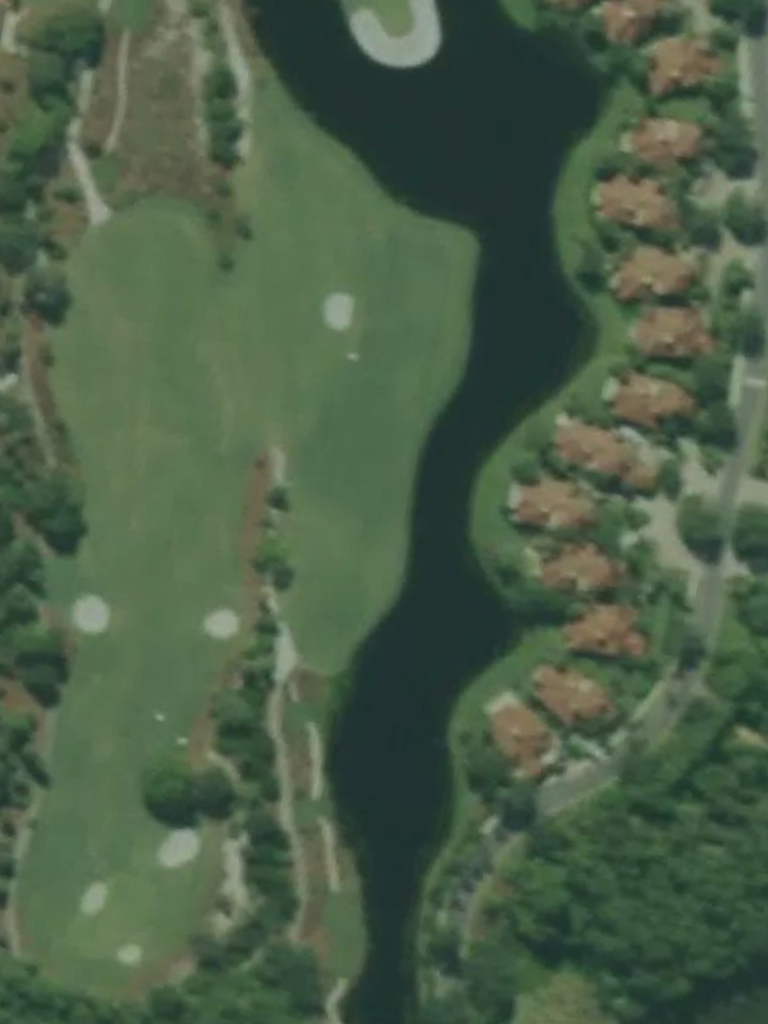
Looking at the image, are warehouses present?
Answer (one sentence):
No, there's no warehouse here.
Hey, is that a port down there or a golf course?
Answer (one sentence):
What you see here is a golf course.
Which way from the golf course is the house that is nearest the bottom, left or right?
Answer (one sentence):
The house that is nearest the bottom appears to the right of the golf course in this view.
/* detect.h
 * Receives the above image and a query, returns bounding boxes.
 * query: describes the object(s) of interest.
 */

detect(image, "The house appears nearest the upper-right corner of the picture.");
[645,32,723,92]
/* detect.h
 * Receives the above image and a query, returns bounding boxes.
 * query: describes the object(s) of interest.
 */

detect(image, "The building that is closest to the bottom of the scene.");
[486,694,561,778]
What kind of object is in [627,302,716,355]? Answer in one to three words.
house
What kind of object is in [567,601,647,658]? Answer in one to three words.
house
